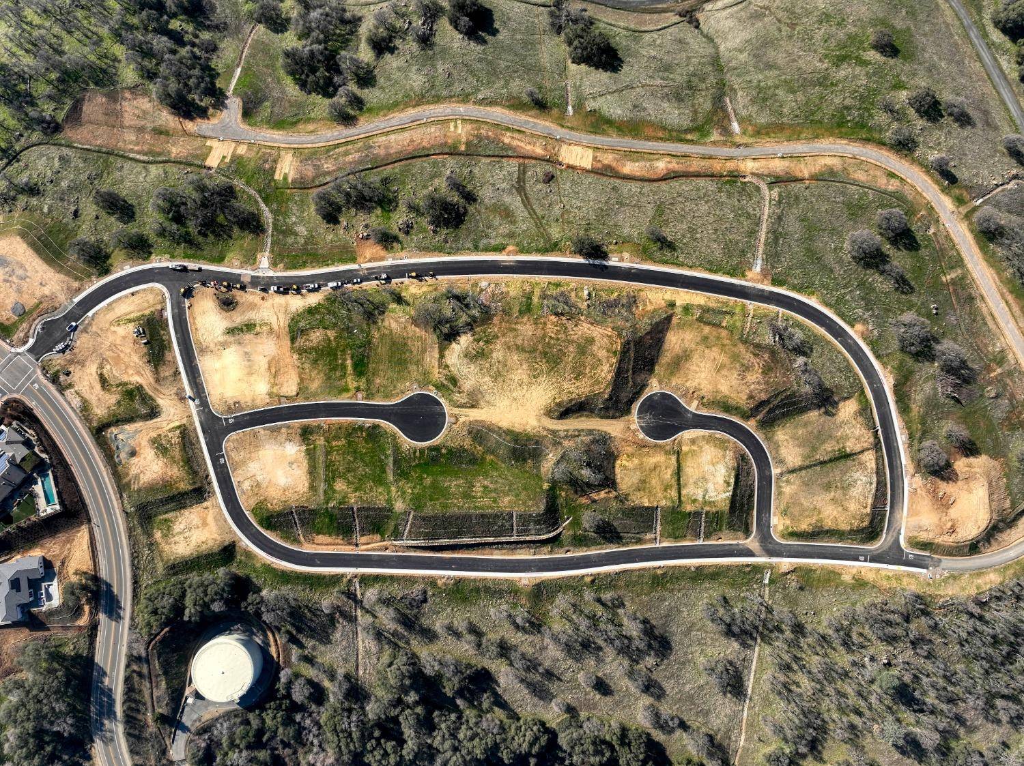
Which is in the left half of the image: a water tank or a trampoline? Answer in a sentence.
The feature located in the left half of the image is a water tank.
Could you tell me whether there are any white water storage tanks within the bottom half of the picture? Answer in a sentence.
Yes, a white water storage tank can be seen within the bottom half of the picture.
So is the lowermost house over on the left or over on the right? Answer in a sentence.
The lowermost house appears in the left half of the scene.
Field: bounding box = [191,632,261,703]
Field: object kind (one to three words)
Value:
water tank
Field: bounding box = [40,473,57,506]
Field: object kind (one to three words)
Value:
swimming pool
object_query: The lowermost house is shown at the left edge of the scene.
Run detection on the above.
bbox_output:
[0,556,46,623]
